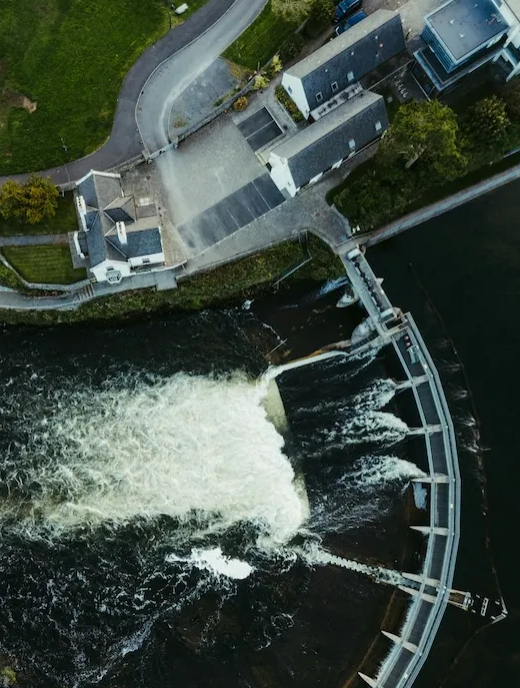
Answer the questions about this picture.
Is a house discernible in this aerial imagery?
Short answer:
Yes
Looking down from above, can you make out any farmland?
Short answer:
No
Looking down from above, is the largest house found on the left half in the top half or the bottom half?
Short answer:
top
